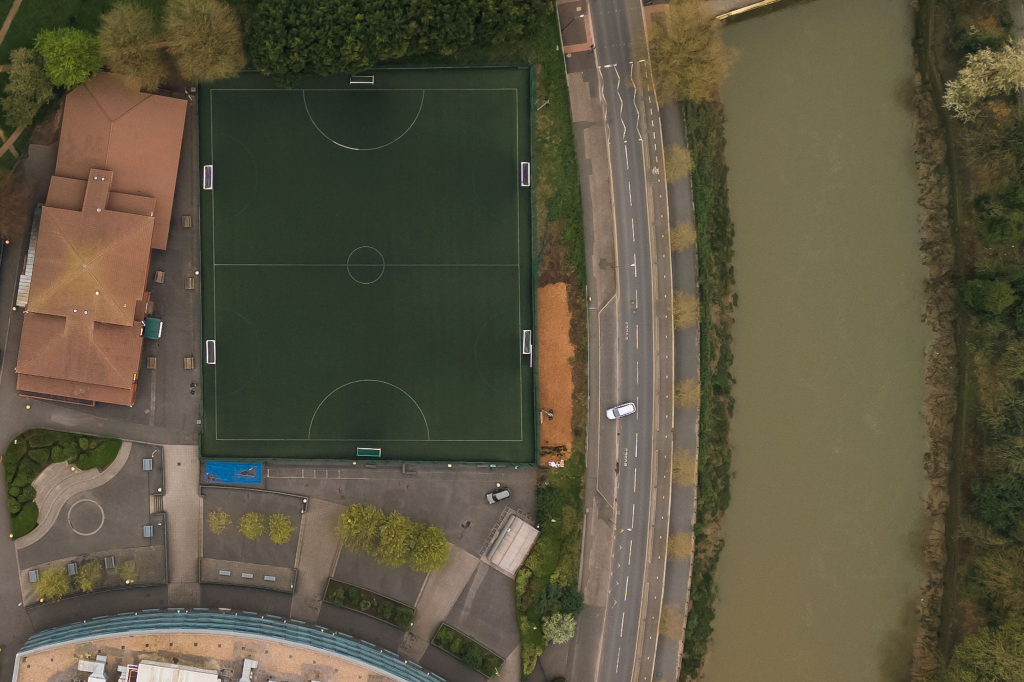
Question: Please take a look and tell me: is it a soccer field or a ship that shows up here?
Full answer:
Looking from above, you can make out a soccer field.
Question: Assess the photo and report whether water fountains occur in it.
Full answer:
No, I find no water fountain anywhere in the image.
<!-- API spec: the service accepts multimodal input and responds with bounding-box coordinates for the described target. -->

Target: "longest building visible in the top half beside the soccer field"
[15,72,188,406]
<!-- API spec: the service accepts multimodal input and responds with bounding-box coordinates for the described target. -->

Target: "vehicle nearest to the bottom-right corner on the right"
[606,402,637,420]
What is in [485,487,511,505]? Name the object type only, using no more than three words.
car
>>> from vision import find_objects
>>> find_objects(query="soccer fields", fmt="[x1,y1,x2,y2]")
[200,65,538,465]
